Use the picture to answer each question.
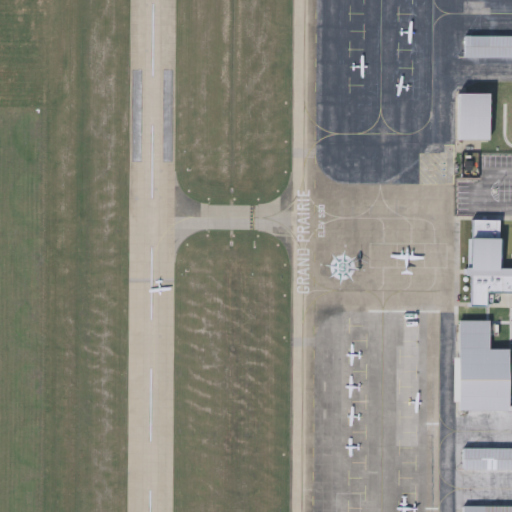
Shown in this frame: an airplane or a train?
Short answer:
airplane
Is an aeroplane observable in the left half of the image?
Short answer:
Yes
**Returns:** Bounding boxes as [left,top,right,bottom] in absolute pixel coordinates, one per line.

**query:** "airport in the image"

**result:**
[128,0,512,512]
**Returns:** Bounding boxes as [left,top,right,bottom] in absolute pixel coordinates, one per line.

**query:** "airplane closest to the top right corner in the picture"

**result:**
[400,20,416,44]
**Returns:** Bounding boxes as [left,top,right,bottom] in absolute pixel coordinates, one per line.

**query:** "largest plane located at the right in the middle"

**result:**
[391,247,425,274]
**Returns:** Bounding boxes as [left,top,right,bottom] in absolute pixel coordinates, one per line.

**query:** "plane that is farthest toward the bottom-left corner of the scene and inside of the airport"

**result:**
[149,280,172,296]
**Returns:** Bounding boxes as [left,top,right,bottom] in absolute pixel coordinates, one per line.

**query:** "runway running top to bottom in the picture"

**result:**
[128,0,176,512]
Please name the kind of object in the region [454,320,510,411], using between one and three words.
hangar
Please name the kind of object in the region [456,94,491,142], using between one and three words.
hangar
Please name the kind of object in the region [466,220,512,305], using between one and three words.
building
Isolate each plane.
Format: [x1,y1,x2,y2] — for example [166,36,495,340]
[391,247,425,274]
[396,75,410,96]
[400,20,416,44]
[408,392,422,414]
[352,54,368,78]
[346,376,360,398]
[345,437,360,458]
[149,280,172,296]
[397,496,417,512]
[346,344,361,366]
[348,404,360,426]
